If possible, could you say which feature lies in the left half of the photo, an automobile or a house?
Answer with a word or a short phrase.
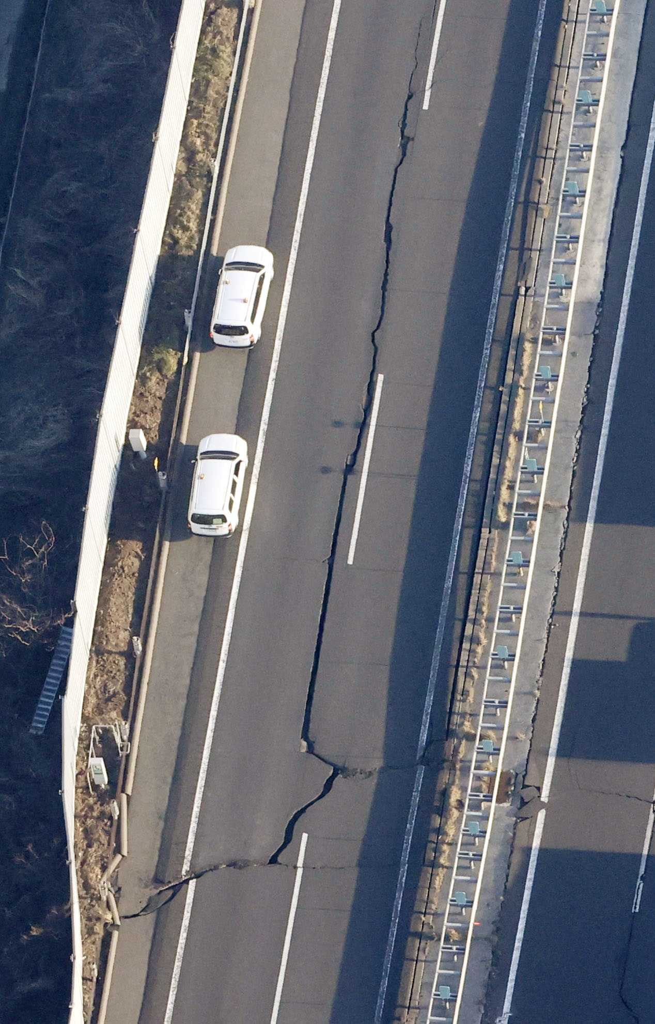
automobile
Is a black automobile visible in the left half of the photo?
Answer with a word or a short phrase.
No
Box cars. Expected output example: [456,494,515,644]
[188,431,246,536]
[211,244,271,347]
